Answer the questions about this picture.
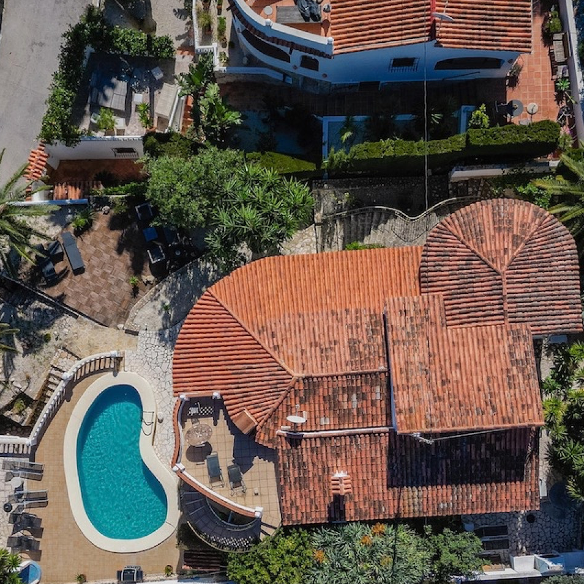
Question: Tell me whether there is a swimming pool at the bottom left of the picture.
Yes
